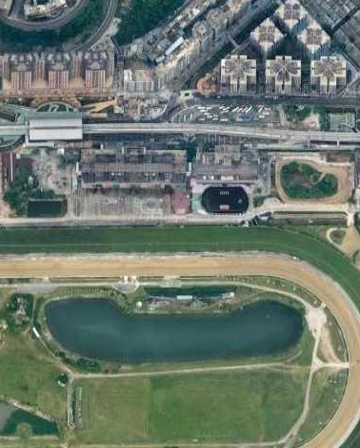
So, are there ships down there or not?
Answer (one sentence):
No, the scene contains no ship.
